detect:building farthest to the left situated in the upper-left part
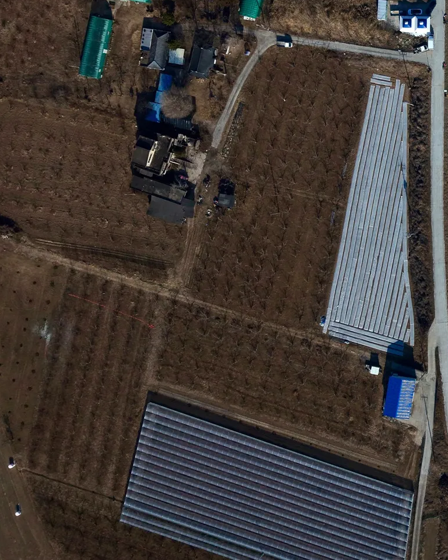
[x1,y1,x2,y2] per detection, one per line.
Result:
[80,16,115,79]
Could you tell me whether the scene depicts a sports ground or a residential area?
residential area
